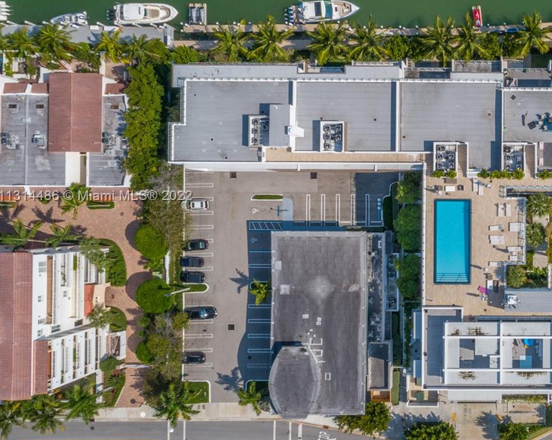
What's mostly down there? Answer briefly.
buildings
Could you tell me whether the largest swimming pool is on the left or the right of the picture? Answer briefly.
right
